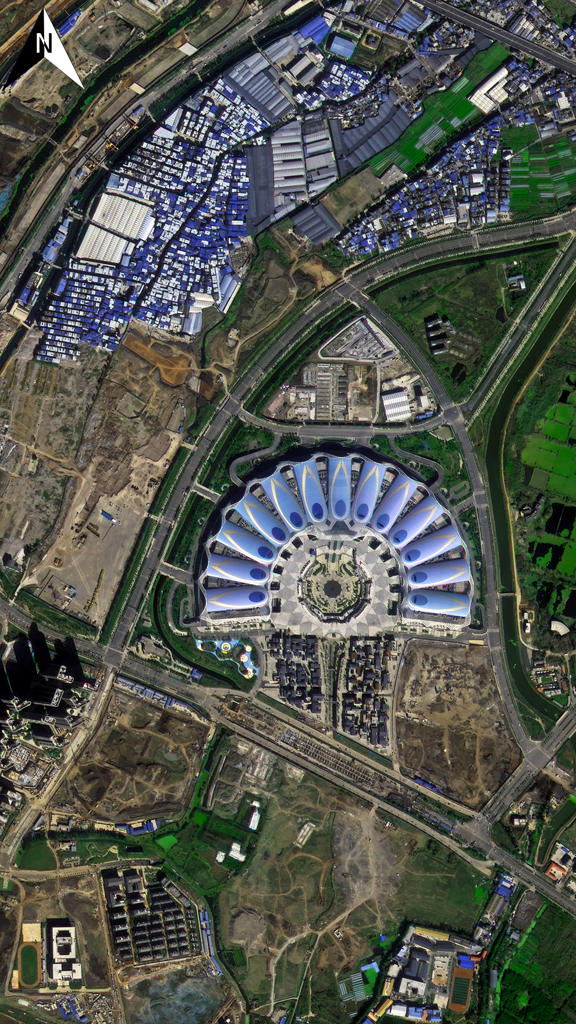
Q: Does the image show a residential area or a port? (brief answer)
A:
residential area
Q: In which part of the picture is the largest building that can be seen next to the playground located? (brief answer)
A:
center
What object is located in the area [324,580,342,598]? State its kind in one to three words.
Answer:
fountain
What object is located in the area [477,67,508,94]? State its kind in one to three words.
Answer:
building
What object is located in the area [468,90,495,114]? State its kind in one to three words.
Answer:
shed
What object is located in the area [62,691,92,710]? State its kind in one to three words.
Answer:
building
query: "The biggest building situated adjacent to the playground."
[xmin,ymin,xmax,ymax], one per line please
[198,453,474,630]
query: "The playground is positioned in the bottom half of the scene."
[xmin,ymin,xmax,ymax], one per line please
[192,635,258,680]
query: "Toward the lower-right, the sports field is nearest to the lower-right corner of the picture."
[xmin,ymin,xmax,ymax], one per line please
[449,968,473,1012]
